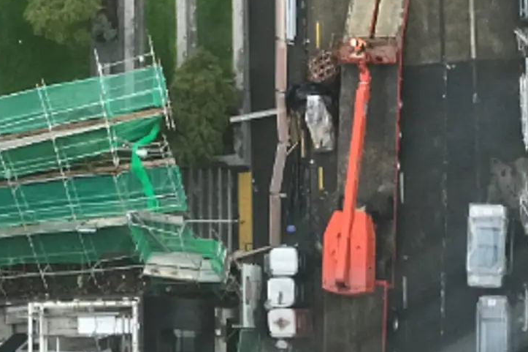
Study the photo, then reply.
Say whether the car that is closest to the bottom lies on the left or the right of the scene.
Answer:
right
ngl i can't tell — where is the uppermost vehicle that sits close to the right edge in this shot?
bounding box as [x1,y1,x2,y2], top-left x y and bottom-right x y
[464,206,512,287]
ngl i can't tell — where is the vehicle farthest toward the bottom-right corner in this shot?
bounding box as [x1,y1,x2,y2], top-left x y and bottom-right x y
[471,296,515,352]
